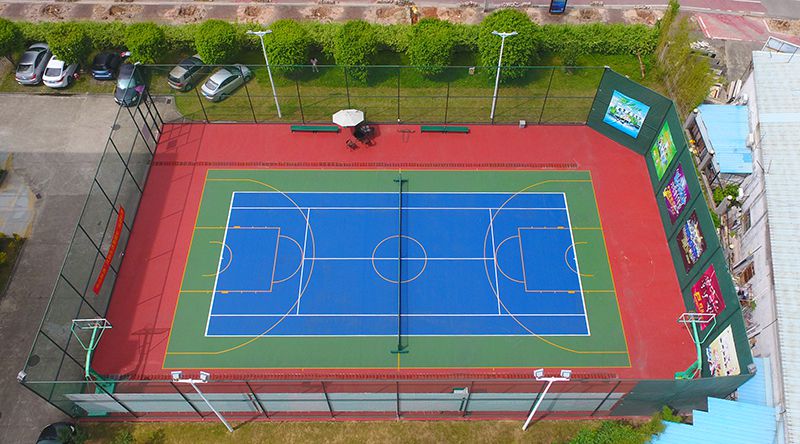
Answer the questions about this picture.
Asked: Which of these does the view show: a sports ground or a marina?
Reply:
sports ground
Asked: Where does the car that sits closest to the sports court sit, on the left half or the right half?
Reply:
left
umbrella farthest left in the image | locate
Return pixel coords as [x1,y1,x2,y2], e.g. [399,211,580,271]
[332,106,363,139]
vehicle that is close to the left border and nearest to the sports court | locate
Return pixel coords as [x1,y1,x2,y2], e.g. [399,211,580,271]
[33,422,76,444]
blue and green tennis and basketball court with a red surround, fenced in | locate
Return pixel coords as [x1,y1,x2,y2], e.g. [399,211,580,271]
[72,122,703,422]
